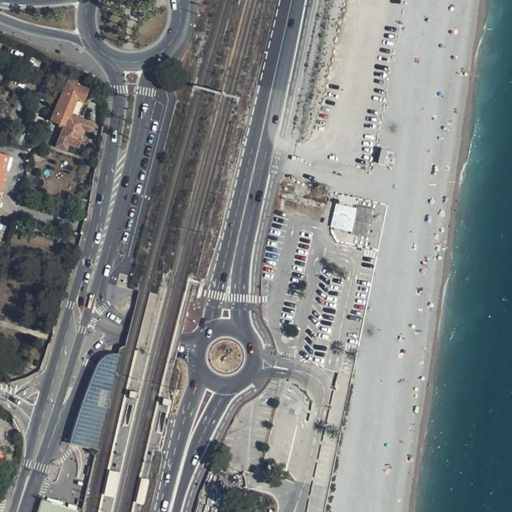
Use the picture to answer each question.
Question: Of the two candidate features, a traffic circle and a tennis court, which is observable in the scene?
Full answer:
Visible in the photo is a traffic circle.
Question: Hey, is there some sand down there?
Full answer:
Yes, sand can be seen from above here.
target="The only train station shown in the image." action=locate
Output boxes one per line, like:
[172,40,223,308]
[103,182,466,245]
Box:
[70,270,204,512]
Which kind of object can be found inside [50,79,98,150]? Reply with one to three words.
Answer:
house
